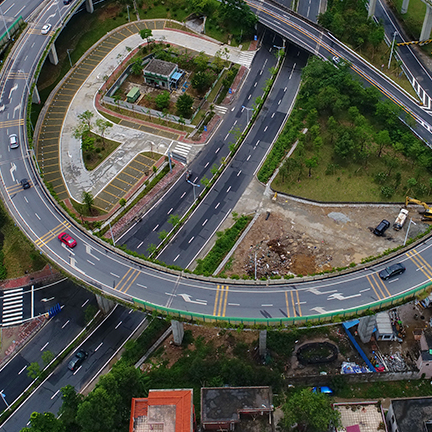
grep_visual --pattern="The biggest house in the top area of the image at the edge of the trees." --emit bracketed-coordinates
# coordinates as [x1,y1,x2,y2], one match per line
[143,59,178,90]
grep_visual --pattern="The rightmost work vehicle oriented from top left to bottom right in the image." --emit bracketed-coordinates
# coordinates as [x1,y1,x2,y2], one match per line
[404,199,432,220]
